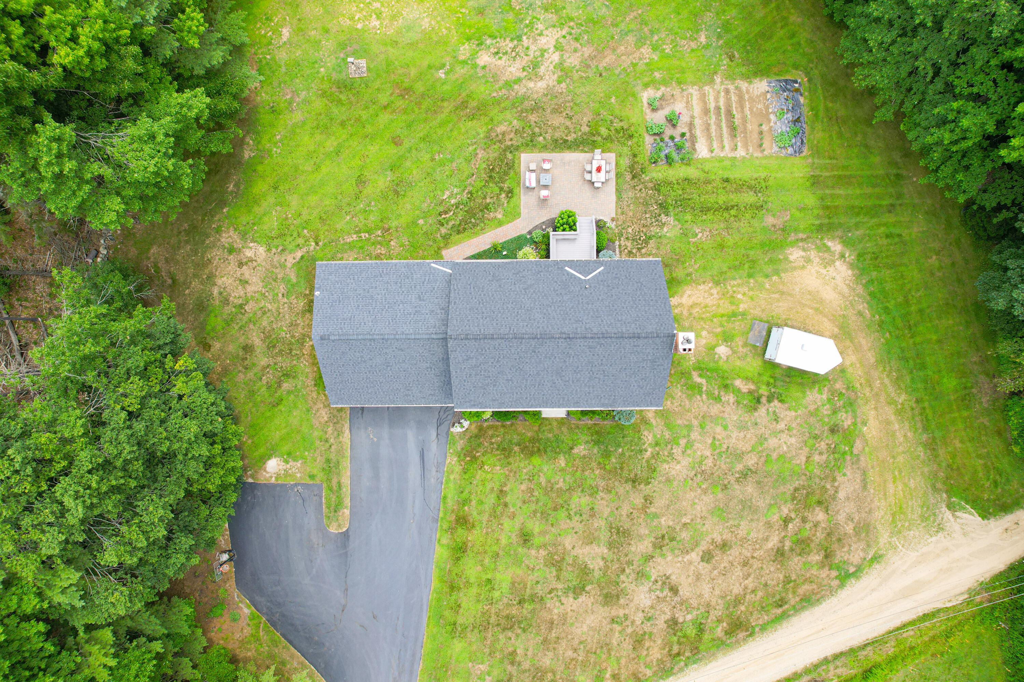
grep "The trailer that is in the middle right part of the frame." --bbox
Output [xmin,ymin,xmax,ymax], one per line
[763,326,844,375]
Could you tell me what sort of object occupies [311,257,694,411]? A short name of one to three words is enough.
house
